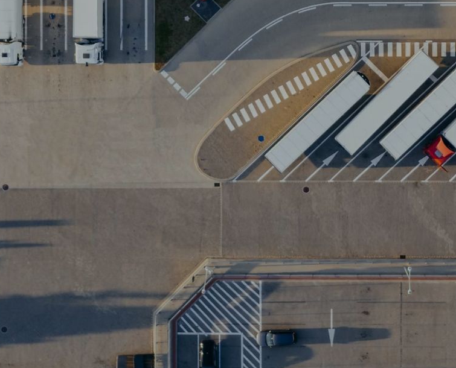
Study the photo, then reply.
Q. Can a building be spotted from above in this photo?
No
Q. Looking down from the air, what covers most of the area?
paved ground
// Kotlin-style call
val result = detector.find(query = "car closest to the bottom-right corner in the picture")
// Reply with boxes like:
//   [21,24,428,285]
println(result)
[257,328,295,349]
